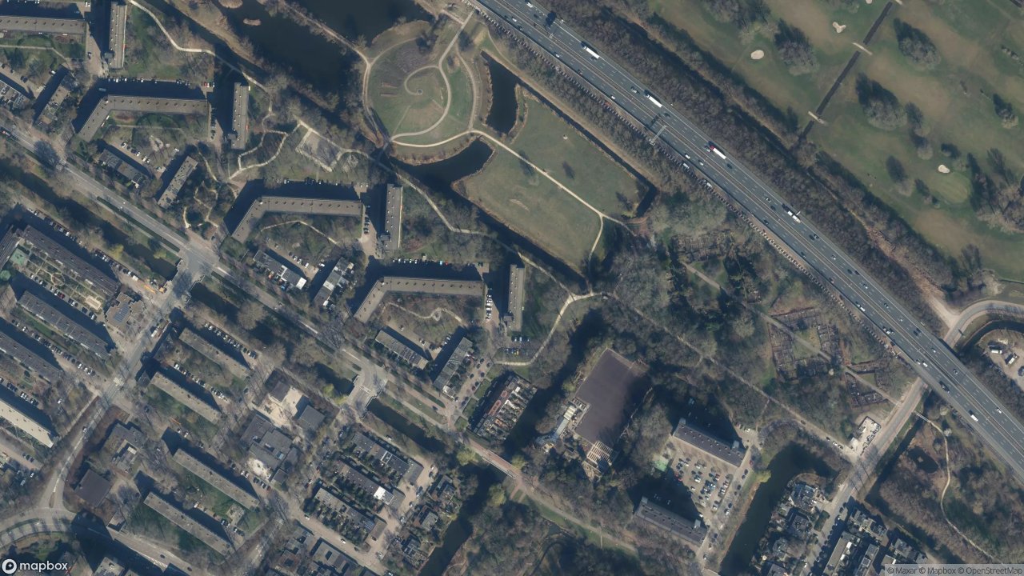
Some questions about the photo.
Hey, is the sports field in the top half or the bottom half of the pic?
bottom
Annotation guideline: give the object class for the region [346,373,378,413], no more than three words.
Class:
bridge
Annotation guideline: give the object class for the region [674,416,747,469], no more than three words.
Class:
building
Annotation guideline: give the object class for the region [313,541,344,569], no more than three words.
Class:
house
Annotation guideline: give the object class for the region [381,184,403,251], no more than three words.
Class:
building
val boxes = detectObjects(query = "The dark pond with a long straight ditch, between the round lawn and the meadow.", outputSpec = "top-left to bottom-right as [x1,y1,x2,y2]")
[483,52,656,215]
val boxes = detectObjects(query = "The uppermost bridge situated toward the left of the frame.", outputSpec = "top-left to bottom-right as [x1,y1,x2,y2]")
[168,258,208,294]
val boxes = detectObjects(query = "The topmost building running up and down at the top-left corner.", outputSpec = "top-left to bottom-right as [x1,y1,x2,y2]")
[101,1,126,70]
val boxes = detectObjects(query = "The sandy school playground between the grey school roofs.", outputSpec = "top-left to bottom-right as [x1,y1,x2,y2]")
[255,388,305,425]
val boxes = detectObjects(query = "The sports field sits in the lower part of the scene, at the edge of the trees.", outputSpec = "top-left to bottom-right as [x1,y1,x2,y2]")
[573,346,652,451]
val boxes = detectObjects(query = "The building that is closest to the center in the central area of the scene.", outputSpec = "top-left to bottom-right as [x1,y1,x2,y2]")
[503,265,525,332]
